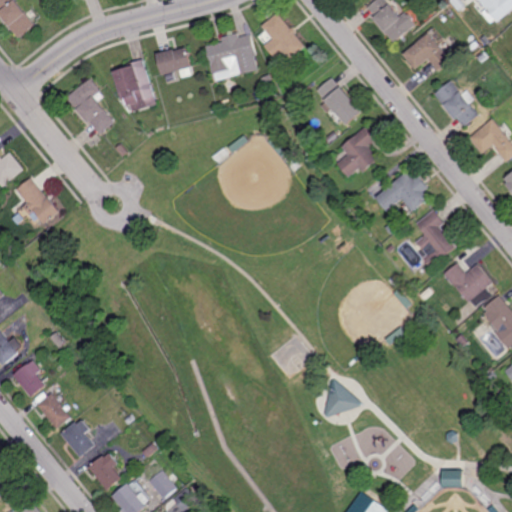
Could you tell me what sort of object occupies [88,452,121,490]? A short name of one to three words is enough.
house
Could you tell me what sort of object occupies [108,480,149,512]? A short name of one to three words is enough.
house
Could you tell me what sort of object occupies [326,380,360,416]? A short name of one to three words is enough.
building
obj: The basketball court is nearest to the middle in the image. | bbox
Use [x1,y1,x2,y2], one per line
[272,334,315,378]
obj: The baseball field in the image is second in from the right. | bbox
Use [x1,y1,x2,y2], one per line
[338,280,408,344]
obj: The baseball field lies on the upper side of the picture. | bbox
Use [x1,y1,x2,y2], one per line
[217,136,292,211]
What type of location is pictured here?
residential area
